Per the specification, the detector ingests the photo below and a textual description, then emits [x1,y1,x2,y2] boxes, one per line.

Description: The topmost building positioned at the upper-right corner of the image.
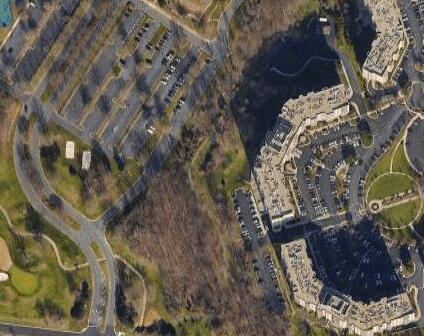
[360,0,406,86]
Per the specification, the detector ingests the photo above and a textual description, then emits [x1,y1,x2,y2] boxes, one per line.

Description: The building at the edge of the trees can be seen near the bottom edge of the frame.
[279,238,415,336]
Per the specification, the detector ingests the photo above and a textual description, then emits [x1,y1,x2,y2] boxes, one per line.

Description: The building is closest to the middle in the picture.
[253,83,354,229]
